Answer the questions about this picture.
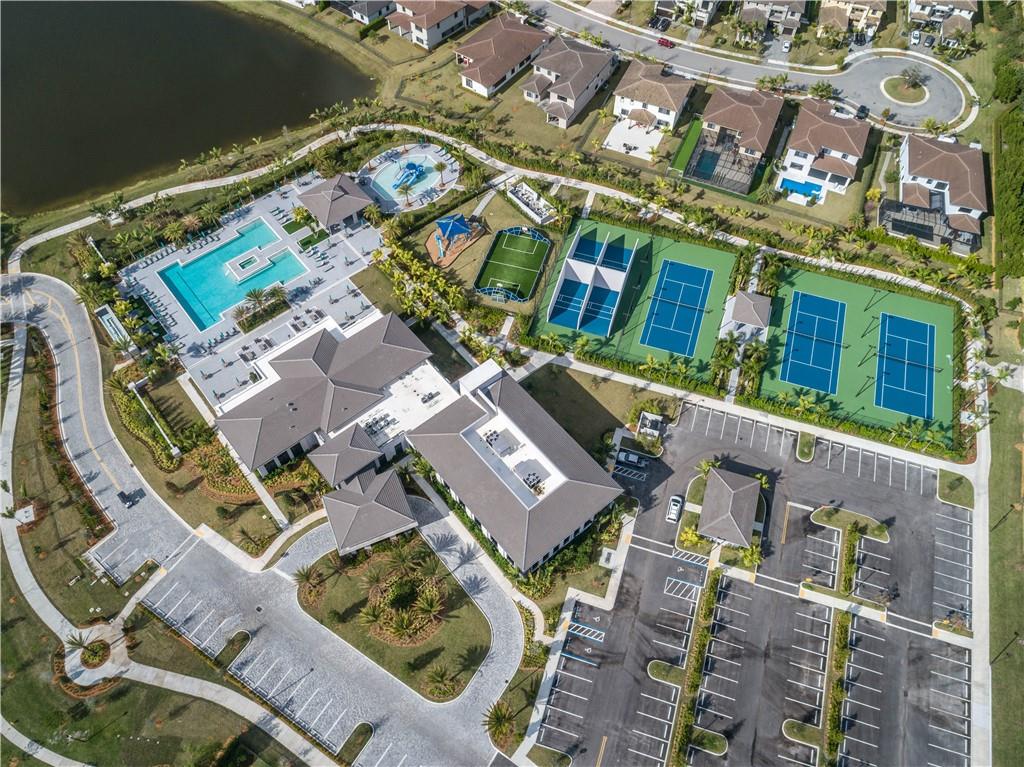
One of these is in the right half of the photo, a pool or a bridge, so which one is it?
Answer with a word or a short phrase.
pool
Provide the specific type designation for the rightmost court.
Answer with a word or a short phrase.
tennis court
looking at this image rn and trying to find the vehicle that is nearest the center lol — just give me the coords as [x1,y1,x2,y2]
[617,450,648,467]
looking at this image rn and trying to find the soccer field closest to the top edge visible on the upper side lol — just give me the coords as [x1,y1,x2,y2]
[473,220,552,304]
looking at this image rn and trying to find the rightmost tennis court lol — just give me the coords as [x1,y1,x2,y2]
[856,285,954,443]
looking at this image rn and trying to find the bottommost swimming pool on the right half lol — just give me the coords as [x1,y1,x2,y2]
[890,217,935,239]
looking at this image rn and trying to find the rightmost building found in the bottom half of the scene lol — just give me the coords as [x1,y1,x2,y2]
[698,467,760,547]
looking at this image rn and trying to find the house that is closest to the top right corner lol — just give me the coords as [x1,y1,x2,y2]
[901,0,977,46]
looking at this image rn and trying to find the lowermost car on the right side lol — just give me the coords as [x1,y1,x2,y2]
[667,496,683,522]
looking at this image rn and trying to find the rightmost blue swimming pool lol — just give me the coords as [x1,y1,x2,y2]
[780,177,823,199]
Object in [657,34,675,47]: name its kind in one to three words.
vehicle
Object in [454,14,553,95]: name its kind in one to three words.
house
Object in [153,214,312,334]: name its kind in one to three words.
swimming pool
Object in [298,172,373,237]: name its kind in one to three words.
building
